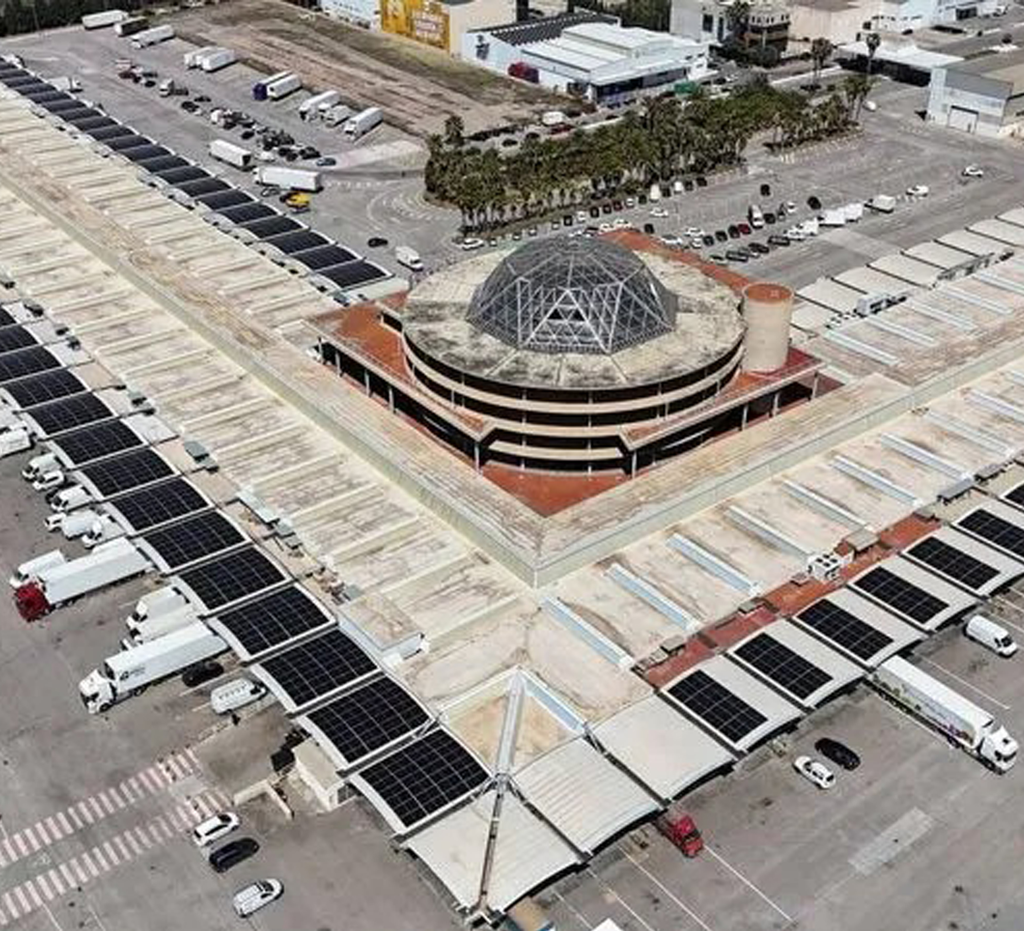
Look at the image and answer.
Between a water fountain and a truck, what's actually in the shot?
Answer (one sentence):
This aerial view contains a truck.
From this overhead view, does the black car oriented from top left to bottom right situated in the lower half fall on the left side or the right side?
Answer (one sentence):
It is on the right.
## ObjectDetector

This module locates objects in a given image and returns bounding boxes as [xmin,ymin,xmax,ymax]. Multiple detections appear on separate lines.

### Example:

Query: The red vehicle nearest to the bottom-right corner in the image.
[652,808,712,856]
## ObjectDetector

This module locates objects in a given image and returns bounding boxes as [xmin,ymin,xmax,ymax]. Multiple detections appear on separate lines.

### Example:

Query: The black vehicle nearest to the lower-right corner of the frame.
[815,734,857,767]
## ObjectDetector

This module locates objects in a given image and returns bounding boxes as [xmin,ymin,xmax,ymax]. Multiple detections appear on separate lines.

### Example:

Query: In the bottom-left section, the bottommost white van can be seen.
[228,872,284,915]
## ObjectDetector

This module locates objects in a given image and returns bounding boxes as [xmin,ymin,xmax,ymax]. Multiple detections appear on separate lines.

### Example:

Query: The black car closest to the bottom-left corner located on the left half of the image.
[209,838,257,871]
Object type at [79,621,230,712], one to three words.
truck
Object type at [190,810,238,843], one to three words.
car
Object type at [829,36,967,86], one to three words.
shed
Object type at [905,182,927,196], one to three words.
vehicle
